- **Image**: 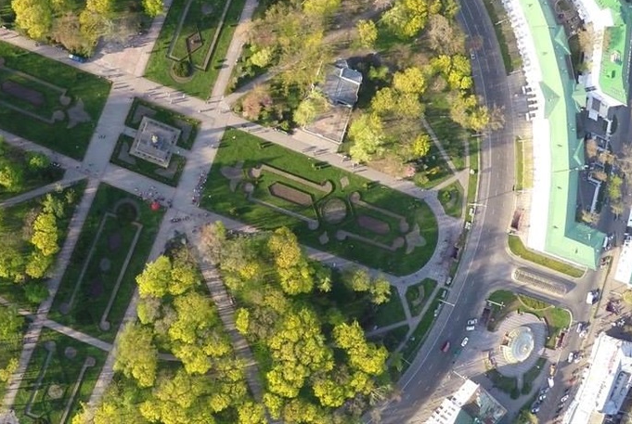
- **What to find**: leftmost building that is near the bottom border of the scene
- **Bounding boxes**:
[428,375,507,424]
